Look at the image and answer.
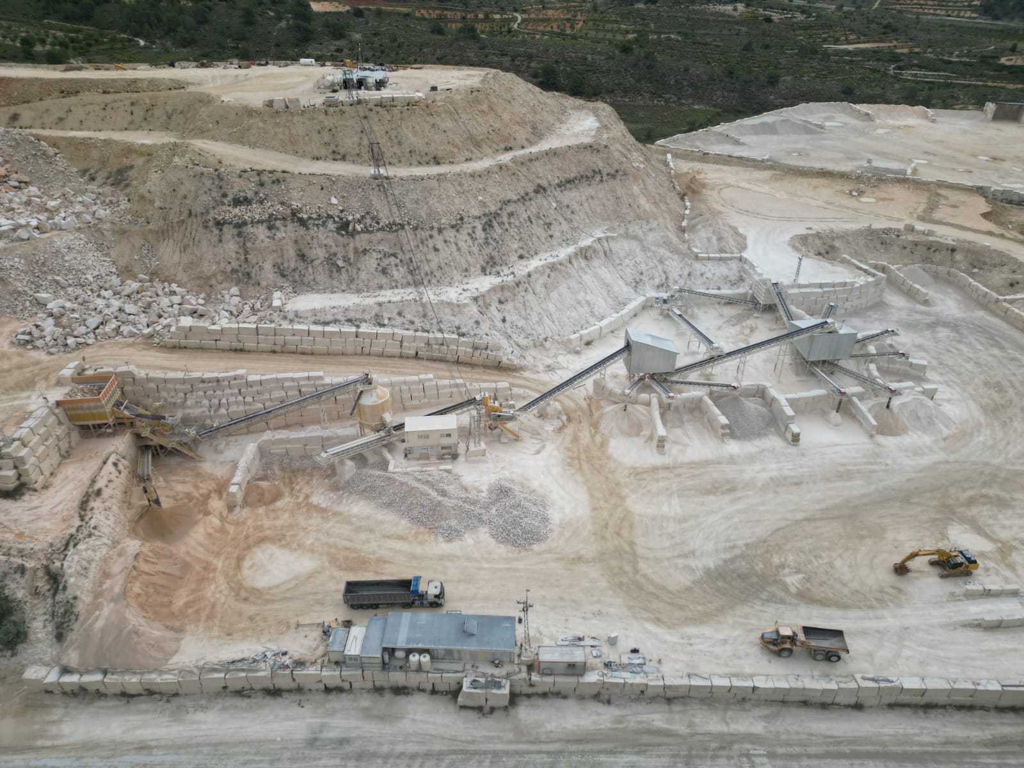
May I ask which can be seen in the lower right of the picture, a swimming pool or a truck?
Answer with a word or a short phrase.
truck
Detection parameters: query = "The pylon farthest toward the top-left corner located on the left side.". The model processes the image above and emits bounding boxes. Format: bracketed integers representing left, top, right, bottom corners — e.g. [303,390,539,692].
[341,60,353,98]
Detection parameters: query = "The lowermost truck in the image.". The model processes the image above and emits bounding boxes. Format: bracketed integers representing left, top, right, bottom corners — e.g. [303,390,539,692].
[761,619,851,660]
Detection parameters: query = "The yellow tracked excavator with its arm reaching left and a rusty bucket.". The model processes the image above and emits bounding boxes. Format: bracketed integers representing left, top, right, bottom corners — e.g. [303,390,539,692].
[896,545,989,582]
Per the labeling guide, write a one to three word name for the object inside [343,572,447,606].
truck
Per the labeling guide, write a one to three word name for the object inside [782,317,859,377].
house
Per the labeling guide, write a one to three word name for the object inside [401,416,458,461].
building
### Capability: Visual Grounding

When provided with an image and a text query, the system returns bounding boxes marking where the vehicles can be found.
[761,619,851,660]
[896,545,989,582]
[343,572,447,606]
